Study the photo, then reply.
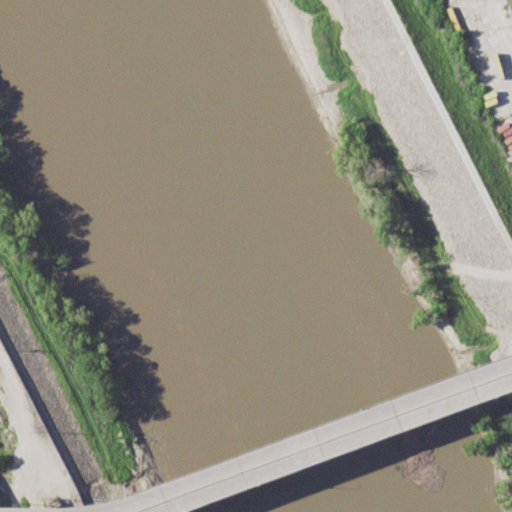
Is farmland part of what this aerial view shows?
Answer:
No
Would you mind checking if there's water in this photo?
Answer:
Yes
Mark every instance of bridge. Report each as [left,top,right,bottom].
[0,356,512,512]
